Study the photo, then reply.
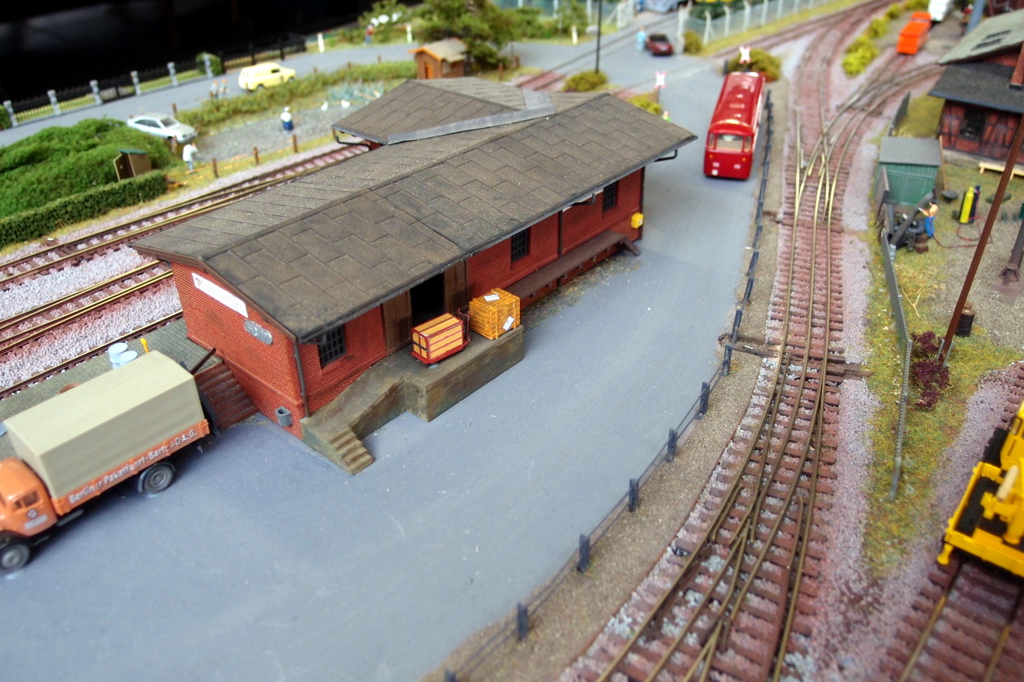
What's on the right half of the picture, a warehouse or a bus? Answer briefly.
bus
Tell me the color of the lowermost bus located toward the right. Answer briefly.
red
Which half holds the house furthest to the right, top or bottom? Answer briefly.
top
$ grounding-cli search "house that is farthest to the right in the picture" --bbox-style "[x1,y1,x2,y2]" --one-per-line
[936,5,1024,184]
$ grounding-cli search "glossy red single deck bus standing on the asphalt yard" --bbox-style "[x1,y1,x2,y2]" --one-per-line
[706,75,768,177]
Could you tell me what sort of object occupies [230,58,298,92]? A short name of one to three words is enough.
van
